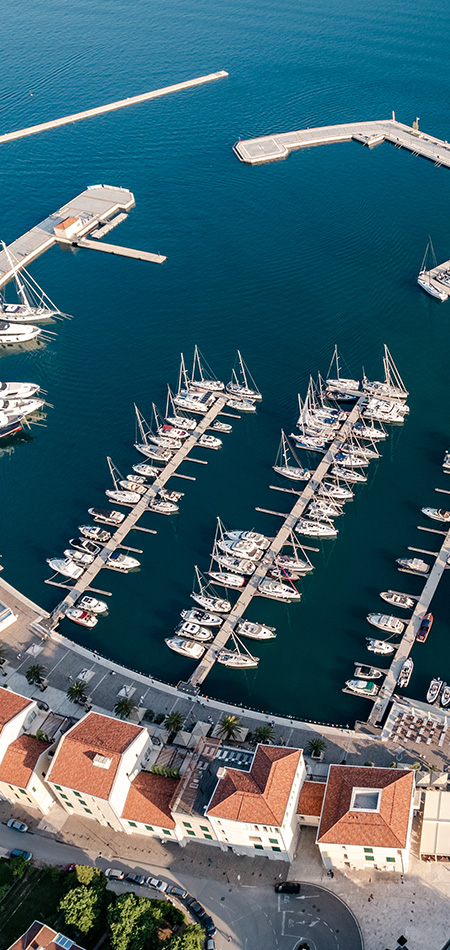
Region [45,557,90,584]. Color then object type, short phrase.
white boat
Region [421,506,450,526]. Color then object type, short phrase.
white boat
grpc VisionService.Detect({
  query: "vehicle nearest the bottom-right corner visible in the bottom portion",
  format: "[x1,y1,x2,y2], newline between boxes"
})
[275,881,302,894]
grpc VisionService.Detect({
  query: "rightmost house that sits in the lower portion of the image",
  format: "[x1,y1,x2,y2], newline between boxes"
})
[315,764,416,869]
